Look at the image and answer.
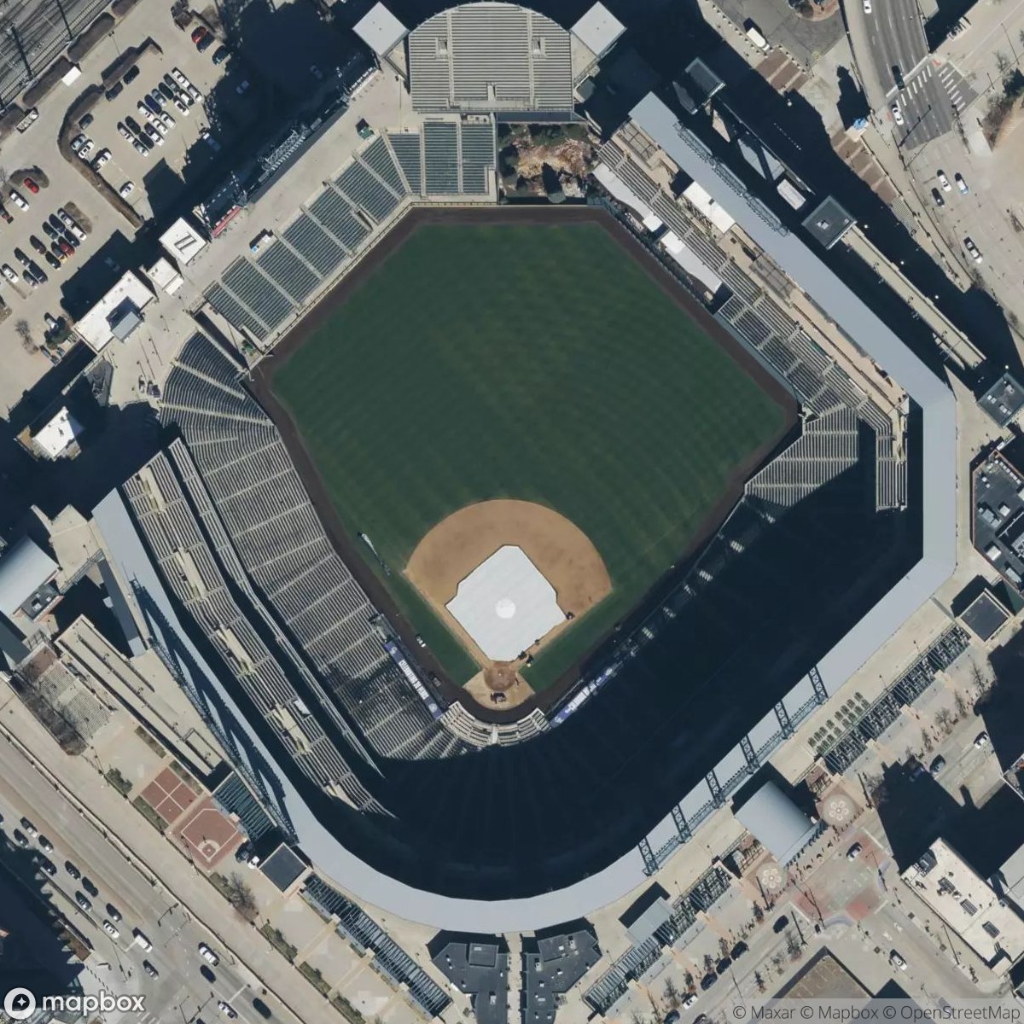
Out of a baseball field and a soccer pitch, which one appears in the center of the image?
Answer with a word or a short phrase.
baseball field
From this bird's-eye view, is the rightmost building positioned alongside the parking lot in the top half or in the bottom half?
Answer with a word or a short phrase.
top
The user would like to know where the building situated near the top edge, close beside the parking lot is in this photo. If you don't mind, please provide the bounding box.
[353,3,410,59]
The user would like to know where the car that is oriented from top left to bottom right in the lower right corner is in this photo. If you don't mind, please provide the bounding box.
[891,952,907,970]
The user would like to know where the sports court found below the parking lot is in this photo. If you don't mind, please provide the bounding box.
[141,767,198,825]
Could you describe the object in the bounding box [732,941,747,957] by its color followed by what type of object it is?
black car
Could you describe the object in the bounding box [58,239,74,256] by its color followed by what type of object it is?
red car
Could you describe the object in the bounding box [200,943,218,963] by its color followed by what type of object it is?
white vehicle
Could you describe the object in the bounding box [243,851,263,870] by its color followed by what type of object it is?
white vehicle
